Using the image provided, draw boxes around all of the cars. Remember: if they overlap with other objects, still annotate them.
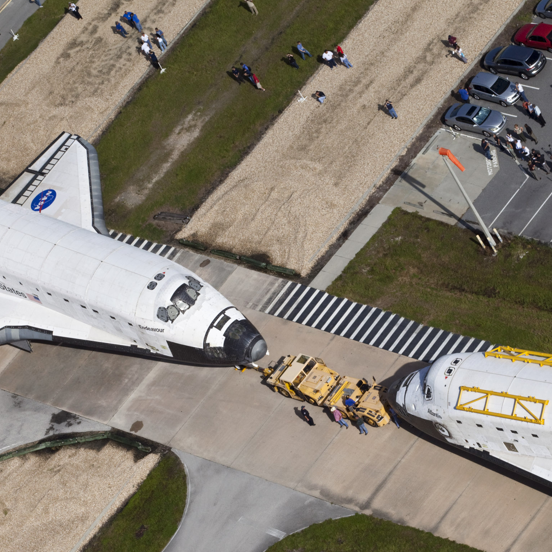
[481,42,545,81]
[464,71,523,107]
[530,0,552,18]
[443,102,509,138]
[509,17,552,53]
